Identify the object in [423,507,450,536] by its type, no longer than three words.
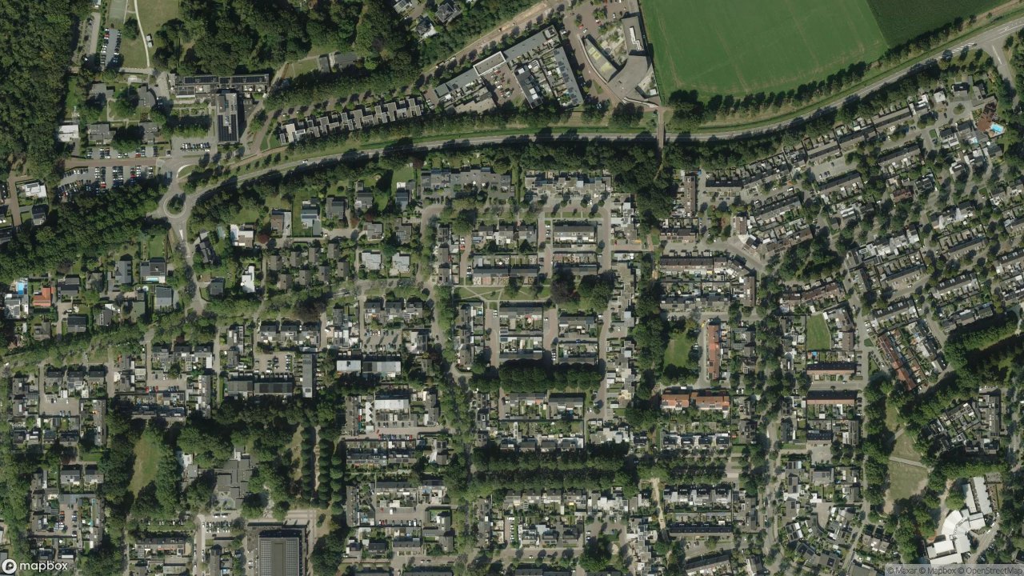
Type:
building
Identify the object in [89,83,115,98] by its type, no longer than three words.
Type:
house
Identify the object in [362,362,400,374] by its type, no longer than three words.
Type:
building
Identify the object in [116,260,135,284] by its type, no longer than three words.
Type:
house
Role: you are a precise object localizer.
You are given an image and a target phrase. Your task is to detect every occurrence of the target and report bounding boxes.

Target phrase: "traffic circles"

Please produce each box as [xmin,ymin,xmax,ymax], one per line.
[160,189,193,222]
